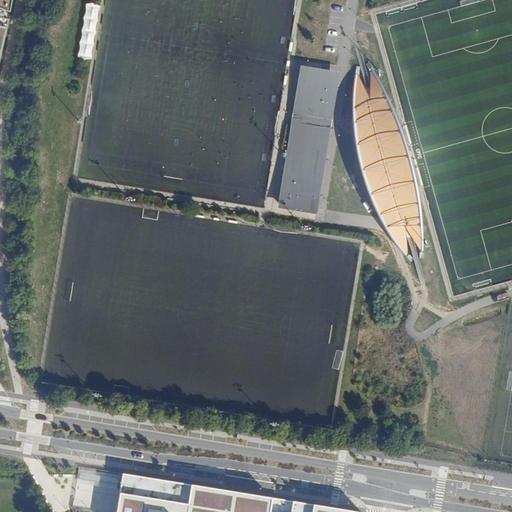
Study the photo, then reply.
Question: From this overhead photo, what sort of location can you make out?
sports ground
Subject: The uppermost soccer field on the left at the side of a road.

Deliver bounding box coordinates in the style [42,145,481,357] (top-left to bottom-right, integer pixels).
[78,0,294,208]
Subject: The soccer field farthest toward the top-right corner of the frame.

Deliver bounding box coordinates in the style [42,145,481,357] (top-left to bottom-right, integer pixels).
[376,0,512,296]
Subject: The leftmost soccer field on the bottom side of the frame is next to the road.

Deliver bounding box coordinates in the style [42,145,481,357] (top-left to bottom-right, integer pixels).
[42,198,360,428]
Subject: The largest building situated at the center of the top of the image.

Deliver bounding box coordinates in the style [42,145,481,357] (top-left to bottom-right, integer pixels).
[280,66,340,214]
